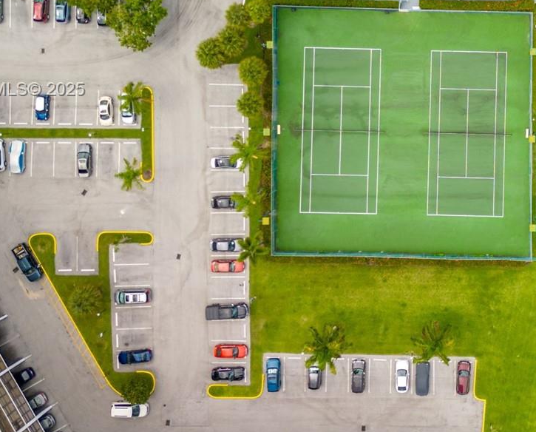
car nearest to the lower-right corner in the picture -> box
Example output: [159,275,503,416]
[455,359,471,394]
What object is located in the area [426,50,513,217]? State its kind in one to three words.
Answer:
tennis court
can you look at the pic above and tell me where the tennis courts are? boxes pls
[426,50,513,217]
[295,46,386,215]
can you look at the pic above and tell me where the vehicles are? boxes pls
[213,366,245,382]
[54,0,72,25]
[13,365,38,386]
[96,1,111,28]
[266,357,281,390]
[351,358,365,392]
[0,139,6,172]
[34,0,51,22]
[455,359,471,394]
[307,362,321,390]
[210,259,246,275]
[120,94,137,126]
[76,0,92,25]
[211,237,246,253]
[210,155,245,170]
[117,289,151,305]
[207,304,248,320]
[119,348,154,365]
[76,142,94,176]
[213,195,243,210]
[111,401,148,419]
[215,343,247,359]
[34,92,51,120]
[13,243,43,281]
[27,390,53,410]
[99,96,114,125]
[394,358,409,392]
